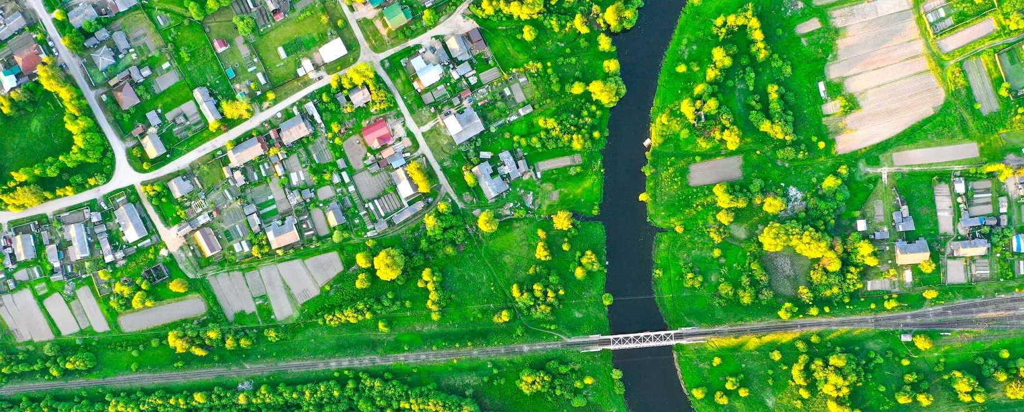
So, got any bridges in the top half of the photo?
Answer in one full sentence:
No, I can find no bridge in the top half of the photo.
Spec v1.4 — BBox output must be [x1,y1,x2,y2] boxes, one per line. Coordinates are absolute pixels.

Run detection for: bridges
[573,326,708,354]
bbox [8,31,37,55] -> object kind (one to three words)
barn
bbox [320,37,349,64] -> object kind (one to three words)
building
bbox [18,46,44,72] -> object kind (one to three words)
house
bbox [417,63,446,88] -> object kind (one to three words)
house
